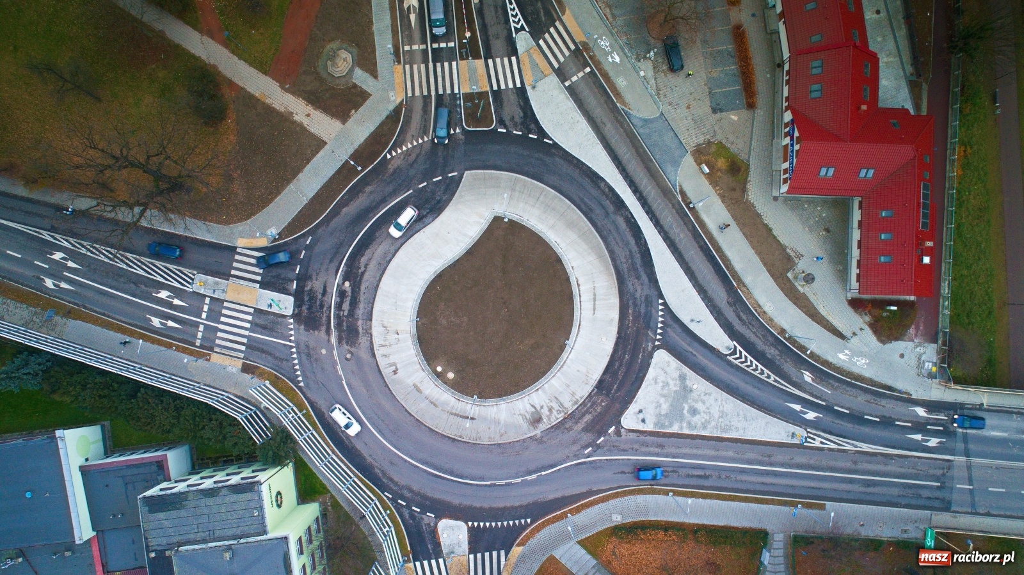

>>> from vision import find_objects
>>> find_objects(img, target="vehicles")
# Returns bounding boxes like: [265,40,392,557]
[428,0,446,35]
[954,415,990,431]
[327,405,361,438]
[635,468,665,484]
[255,251,291,268]
[664,33,685,71]
[145,240,182,259]
[432,108,449,144]
[388,204,417,237]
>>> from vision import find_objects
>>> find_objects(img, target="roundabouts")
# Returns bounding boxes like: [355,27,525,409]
[291,129,940,525]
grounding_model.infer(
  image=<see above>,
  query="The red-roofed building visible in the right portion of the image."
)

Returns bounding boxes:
[768,0,936,296]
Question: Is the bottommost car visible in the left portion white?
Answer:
Yes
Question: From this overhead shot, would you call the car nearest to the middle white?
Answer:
Yes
